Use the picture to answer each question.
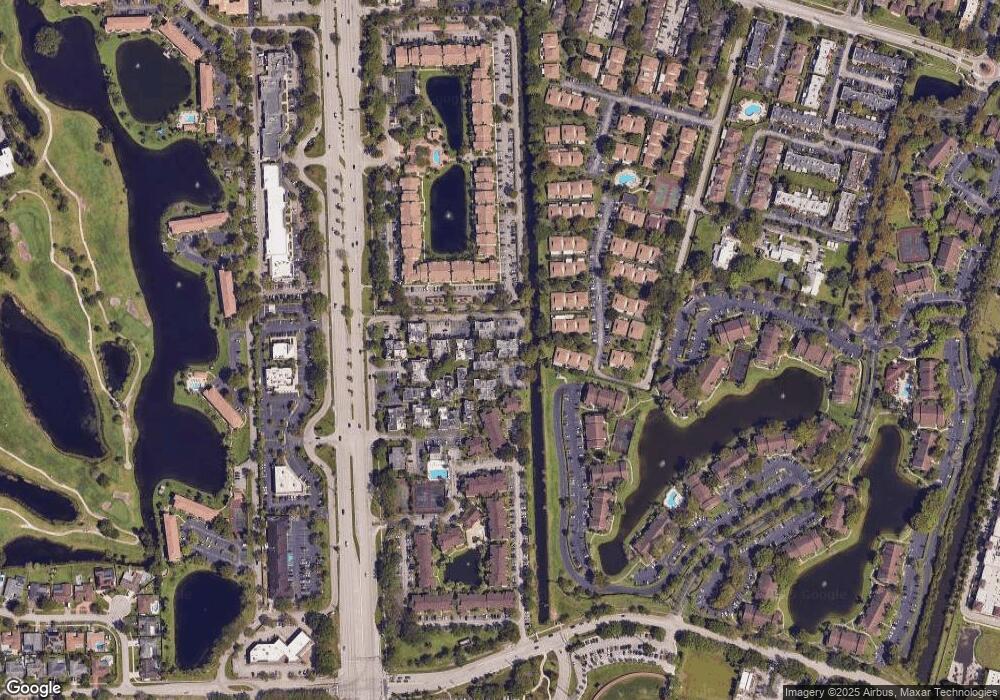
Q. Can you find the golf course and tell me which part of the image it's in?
left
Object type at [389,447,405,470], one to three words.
building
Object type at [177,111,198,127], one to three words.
swimming pool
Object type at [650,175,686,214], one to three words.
tennis court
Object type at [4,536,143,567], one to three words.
pond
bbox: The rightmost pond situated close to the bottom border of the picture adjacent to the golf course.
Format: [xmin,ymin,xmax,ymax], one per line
[175,571,242,670]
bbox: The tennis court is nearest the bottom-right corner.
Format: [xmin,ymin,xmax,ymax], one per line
[730,348,751,383]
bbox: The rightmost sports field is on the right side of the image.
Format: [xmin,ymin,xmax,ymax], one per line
[682,650,737,700]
